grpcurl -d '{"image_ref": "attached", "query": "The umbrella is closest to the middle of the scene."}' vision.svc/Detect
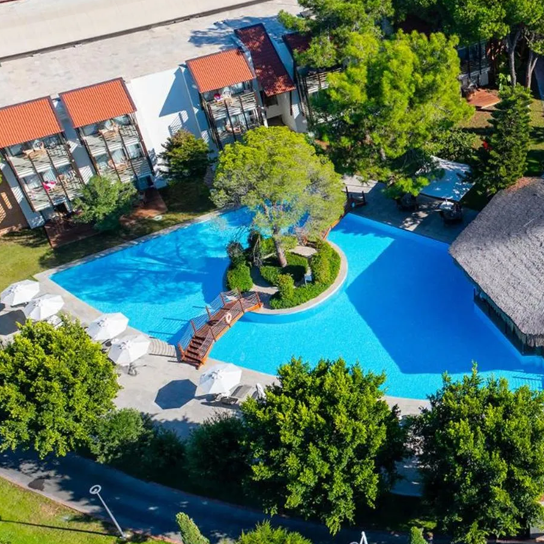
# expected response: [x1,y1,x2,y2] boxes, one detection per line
[198,367,243,407]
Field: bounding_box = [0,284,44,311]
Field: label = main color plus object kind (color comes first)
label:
white umbrella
